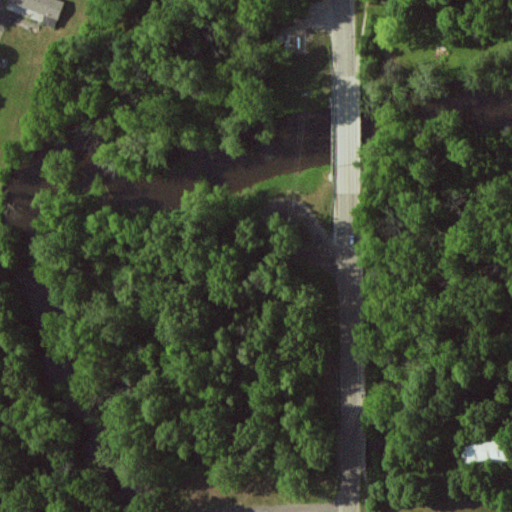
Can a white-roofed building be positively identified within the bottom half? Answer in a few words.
Yes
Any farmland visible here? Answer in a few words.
No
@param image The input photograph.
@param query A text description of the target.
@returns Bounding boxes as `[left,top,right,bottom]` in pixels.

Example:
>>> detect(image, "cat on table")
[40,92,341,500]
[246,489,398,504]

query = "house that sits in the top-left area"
[1,0,63,28]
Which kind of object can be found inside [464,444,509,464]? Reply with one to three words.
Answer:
house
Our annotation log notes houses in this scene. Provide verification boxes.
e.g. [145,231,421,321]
[1,0,63,28]
[464,444,509,464]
